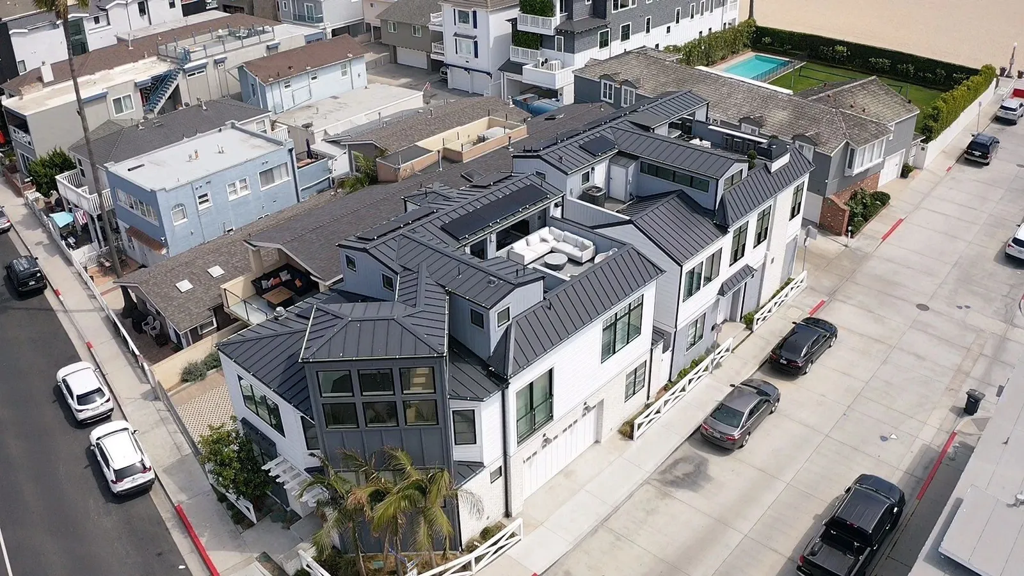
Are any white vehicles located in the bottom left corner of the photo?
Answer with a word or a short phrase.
Yes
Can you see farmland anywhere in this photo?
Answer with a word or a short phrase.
No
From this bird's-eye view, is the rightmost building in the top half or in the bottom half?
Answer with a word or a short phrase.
bottom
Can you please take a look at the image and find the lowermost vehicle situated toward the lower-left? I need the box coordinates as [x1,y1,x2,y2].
[82,417,157,497]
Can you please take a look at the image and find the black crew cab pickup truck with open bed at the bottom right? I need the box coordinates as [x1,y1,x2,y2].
[787,469,911,576]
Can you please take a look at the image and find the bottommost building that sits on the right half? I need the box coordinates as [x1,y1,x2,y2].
[910,387,1024,576]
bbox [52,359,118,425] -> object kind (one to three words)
car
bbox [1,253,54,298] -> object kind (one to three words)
car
